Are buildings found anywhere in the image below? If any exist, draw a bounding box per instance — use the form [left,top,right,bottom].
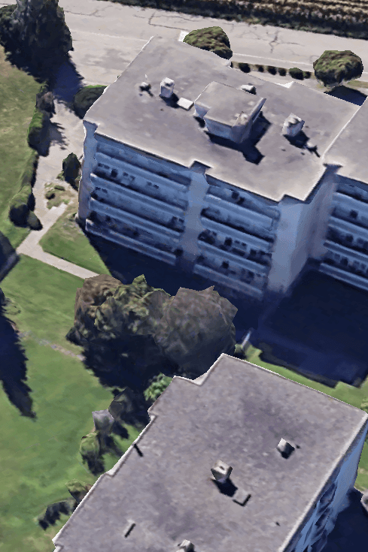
[51,352,368,552]
[74,40,368,291]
